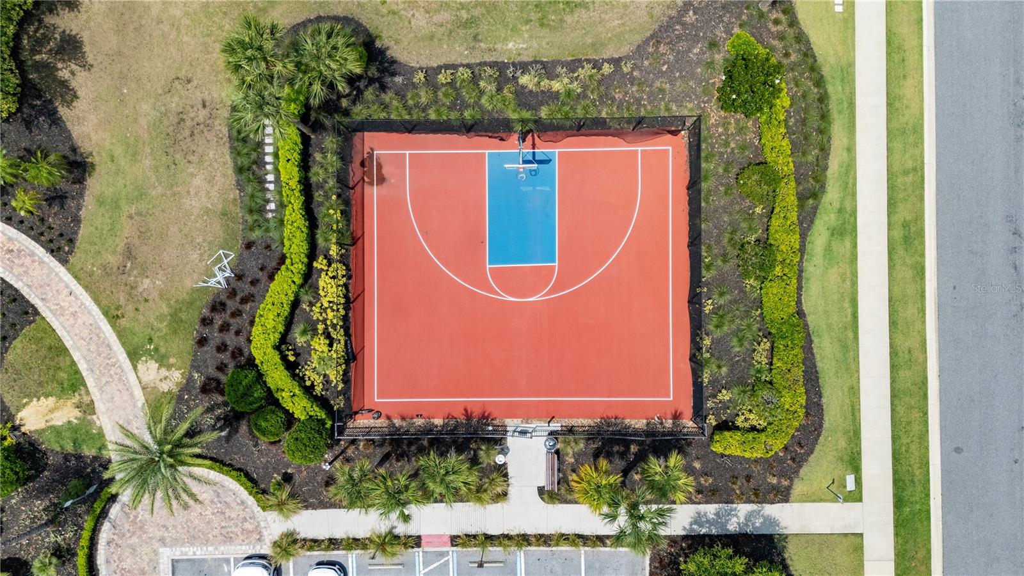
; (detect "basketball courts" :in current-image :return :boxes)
[351,129,694,421]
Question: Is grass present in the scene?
Yes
